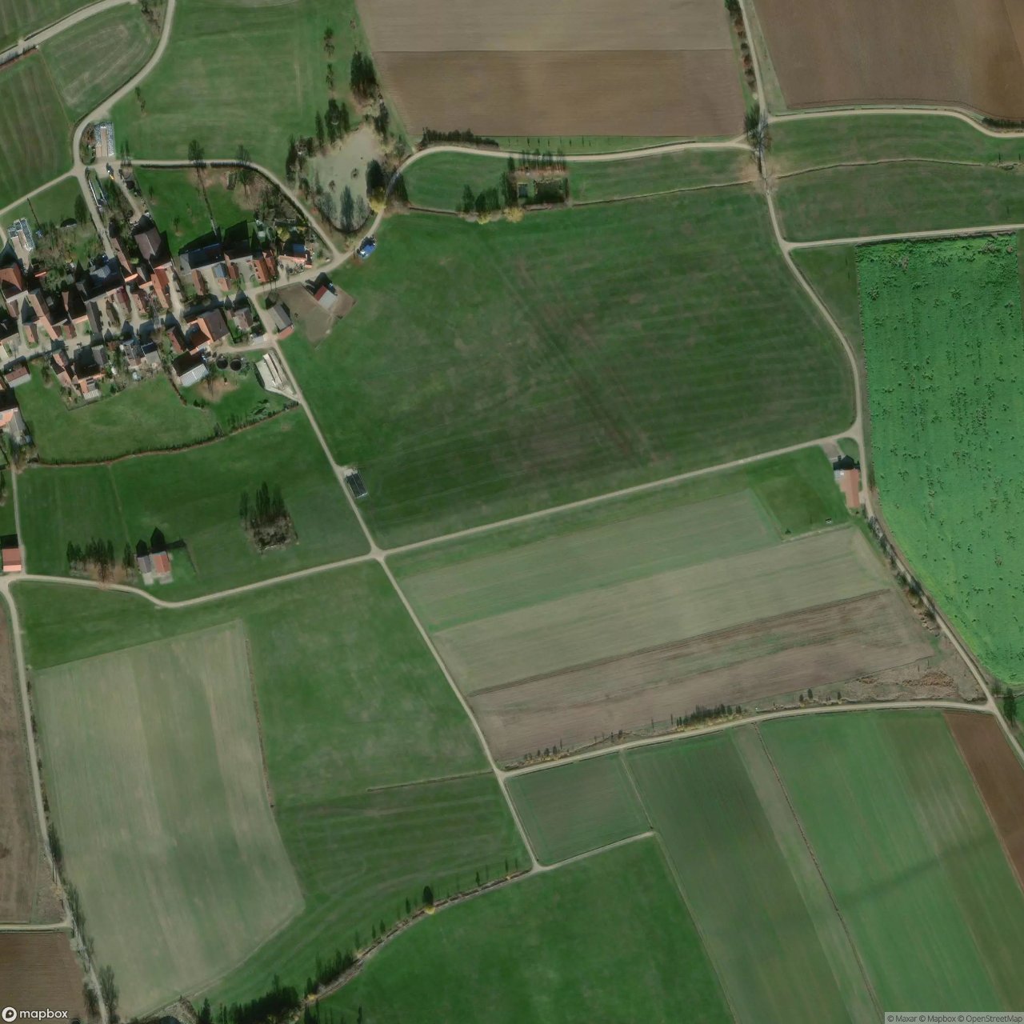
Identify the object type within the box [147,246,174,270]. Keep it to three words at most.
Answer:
barn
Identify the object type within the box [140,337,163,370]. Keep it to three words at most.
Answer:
shed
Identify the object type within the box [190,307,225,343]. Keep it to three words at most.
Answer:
barn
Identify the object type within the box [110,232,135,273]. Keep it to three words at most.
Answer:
house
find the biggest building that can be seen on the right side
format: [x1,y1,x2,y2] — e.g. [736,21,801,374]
[838,464,861,508]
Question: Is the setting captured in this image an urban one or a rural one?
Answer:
rural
